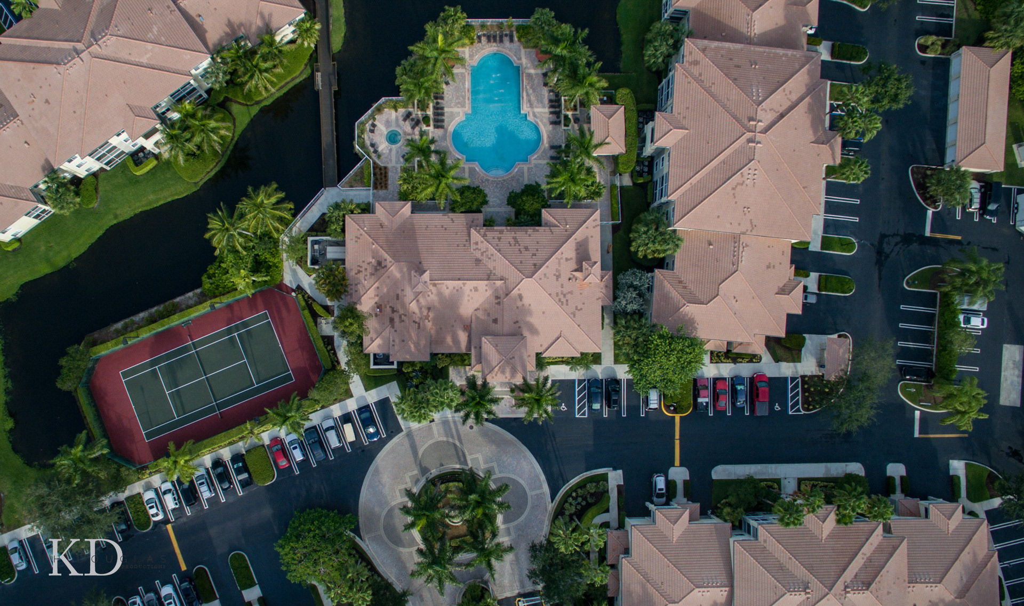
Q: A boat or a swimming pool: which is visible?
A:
swimming pool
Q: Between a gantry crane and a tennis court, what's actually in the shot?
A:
tennis court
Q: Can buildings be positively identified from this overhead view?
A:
Yes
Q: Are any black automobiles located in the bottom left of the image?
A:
Yes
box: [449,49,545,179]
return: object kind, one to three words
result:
swimming pool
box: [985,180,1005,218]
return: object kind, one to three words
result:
vehicle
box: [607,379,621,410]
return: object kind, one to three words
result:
car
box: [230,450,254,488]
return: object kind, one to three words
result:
truck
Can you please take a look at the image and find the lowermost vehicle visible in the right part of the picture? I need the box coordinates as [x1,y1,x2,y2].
[652,473,667,503]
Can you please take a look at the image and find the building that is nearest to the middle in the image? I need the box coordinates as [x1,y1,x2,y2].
[344,200,613,383]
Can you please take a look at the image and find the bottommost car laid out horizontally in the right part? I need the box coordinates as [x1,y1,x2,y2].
[903,366,933,381]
